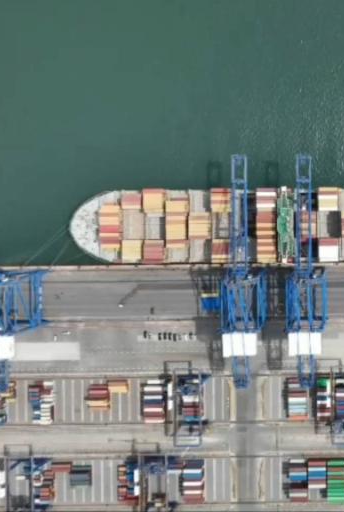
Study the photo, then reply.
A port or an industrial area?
port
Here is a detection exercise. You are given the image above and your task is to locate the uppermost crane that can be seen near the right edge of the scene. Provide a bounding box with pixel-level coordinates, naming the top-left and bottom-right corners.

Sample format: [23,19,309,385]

[285,154,332,387]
